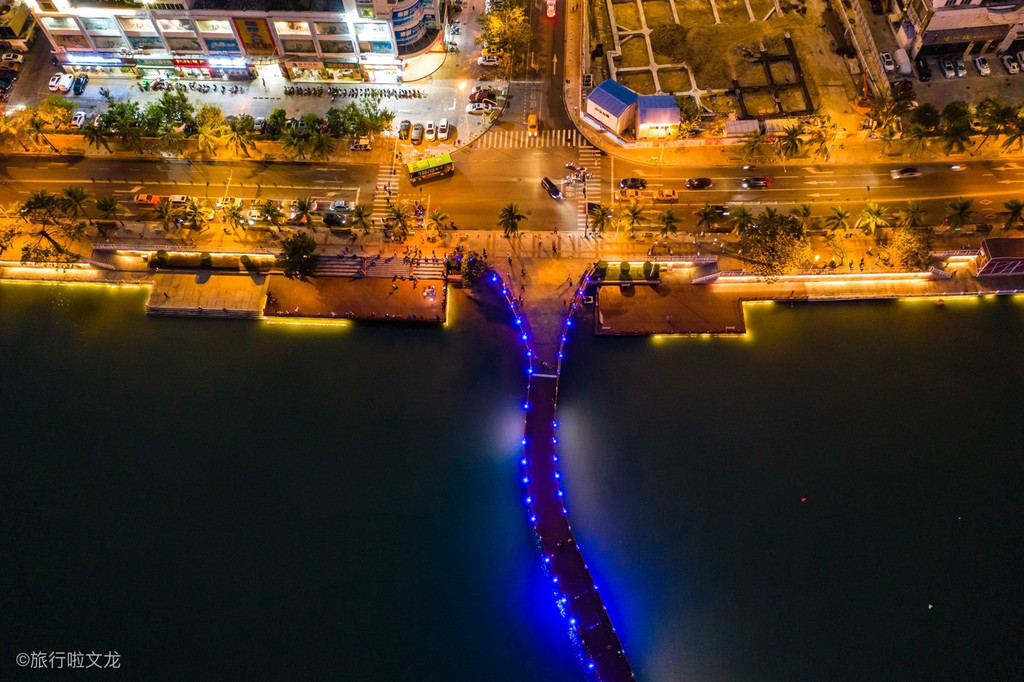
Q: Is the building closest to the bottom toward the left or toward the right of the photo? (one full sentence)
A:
The building closest to the bottom sits on the right side.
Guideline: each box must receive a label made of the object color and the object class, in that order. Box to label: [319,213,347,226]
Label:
black vehicle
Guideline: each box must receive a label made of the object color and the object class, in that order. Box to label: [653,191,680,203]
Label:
yellow vehicle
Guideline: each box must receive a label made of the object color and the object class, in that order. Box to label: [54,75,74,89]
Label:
white vehicle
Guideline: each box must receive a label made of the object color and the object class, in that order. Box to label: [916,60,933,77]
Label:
black car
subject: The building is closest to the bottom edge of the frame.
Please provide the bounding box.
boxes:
[976,235,1024,279]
